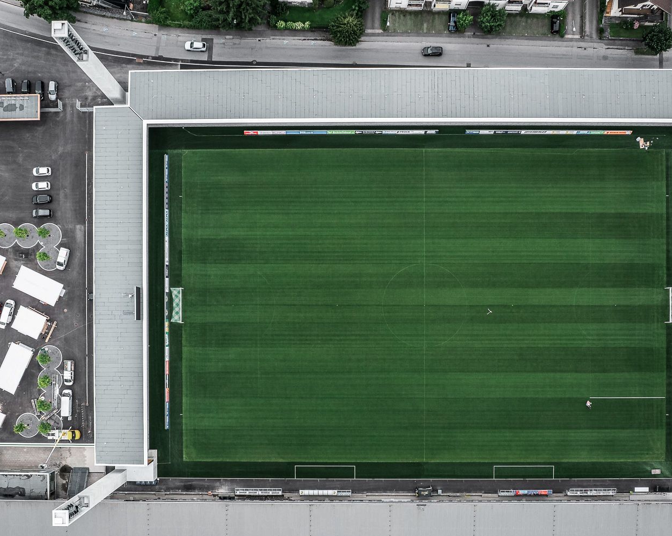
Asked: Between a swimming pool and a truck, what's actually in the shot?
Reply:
truck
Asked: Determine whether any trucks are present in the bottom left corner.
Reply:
Yes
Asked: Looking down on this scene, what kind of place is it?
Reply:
sports ground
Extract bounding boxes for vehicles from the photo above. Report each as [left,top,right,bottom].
[32,207,54,218]
[63,360,75,386]
[56,249,70,269]
[59,391,72,421]
[550,15,562,37]
[18,78,30,94]
[185,41,206,52]
[4,76,15,95]
[421,45,443,57]
[32,166,52,176]
[0,298,16,329]
[31,195,53,204]
[33,79,44,102]
[39,425,80,469]
[31,180,51,191]
[46,80,58,102]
